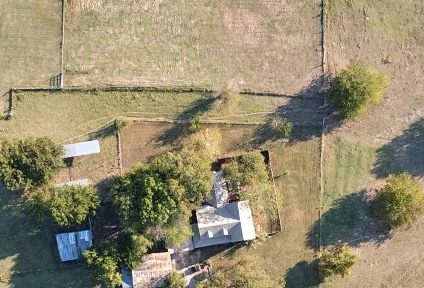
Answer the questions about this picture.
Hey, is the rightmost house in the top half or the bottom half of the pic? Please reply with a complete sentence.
The bottom half of the photo is where the rightmost house is.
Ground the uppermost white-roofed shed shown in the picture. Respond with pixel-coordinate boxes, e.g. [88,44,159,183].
[62,140,101,158]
